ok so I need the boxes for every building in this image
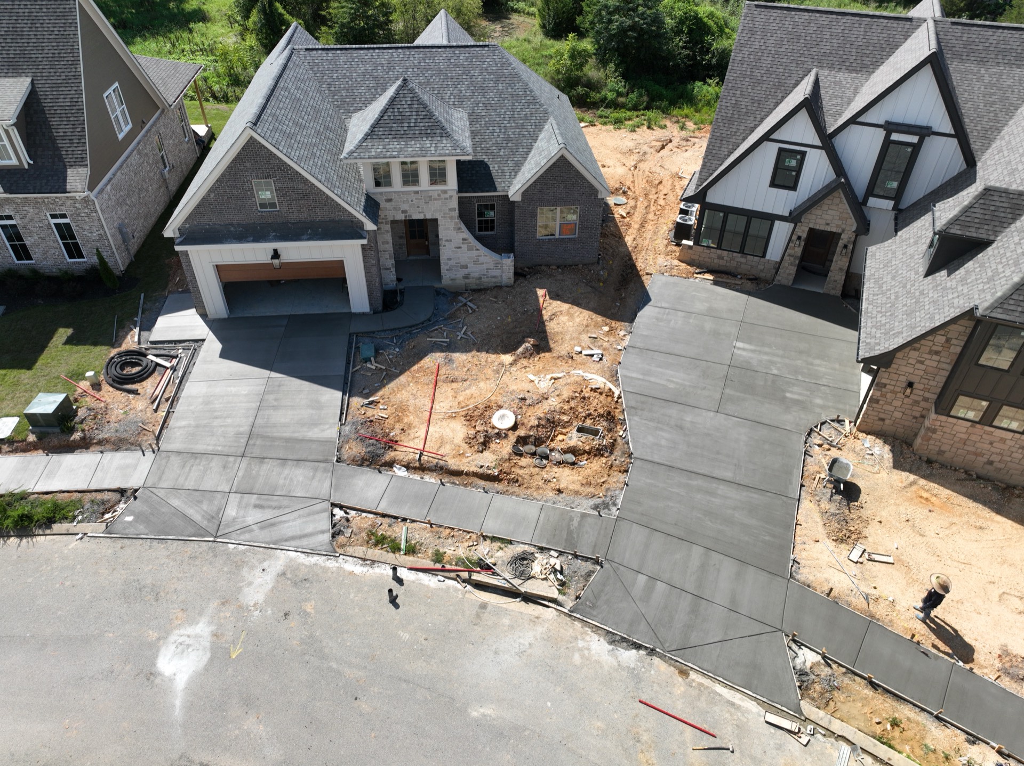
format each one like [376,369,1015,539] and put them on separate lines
[670,0,1024,486]
[162,7,612,321]
[0,0,218,280]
